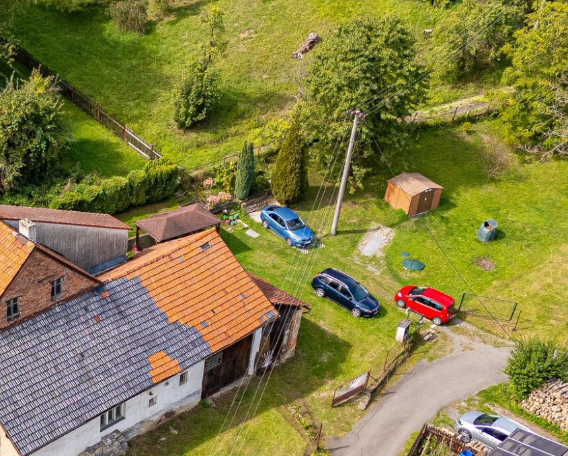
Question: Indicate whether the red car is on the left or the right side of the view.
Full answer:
You can find the red car on the right side of the picture.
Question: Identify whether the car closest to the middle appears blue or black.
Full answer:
The car closest to the middle is blue.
